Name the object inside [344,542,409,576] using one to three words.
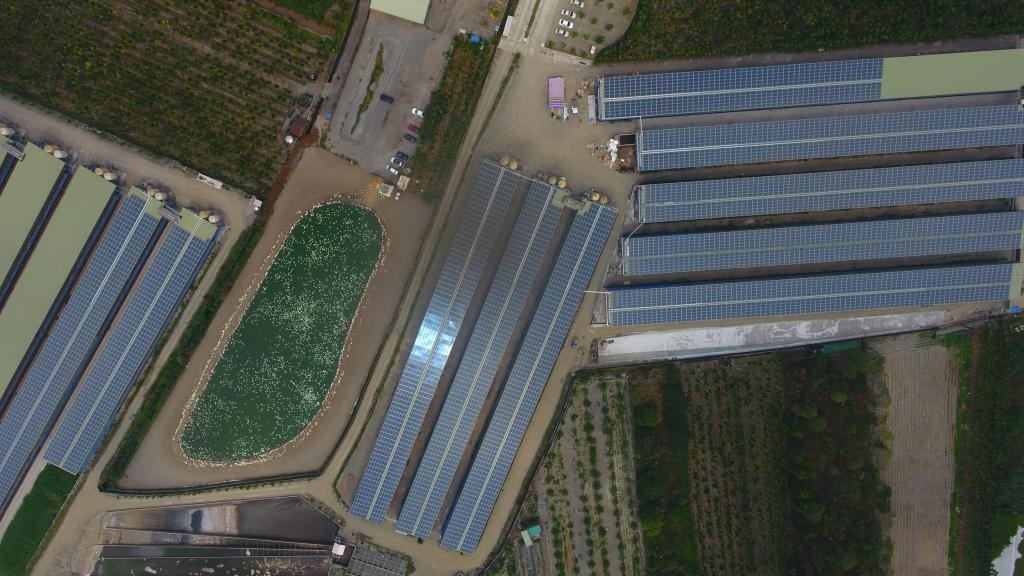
house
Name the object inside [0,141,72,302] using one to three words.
barn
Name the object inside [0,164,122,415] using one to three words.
barn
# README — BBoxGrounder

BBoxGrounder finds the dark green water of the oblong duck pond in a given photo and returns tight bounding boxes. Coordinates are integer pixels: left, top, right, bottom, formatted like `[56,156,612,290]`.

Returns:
[179,202,386,465]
